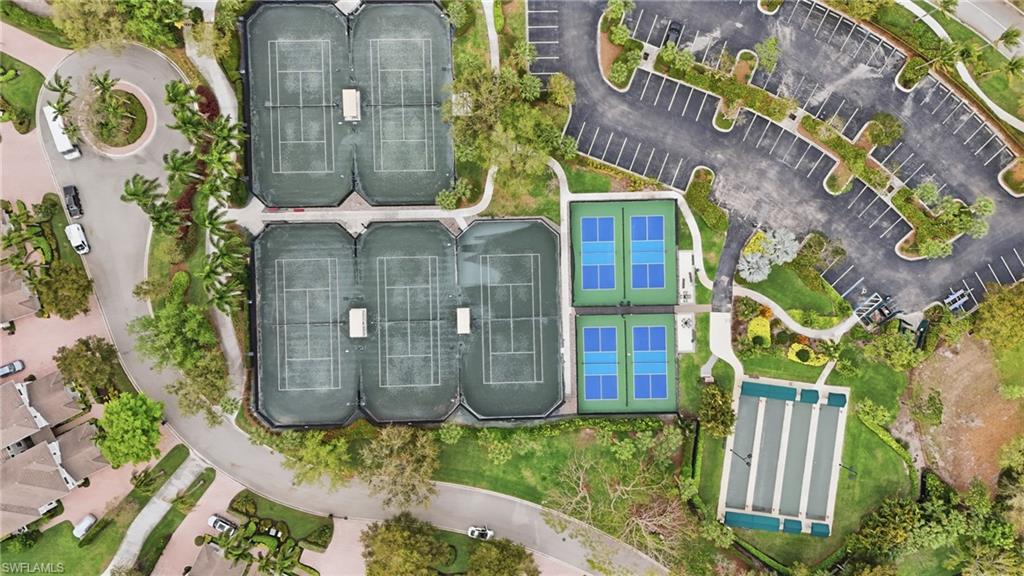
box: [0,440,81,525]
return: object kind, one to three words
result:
house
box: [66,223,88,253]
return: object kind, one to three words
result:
vehicle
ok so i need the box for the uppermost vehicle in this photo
[663,20,679,47]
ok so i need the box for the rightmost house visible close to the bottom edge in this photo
[191,542,252,576]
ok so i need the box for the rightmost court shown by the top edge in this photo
[349,2,455,202]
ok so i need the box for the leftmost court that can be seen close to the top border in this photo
[249,4,353,203]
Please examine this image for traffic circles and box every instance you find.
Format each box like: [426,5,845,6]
[34,37,193,193]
